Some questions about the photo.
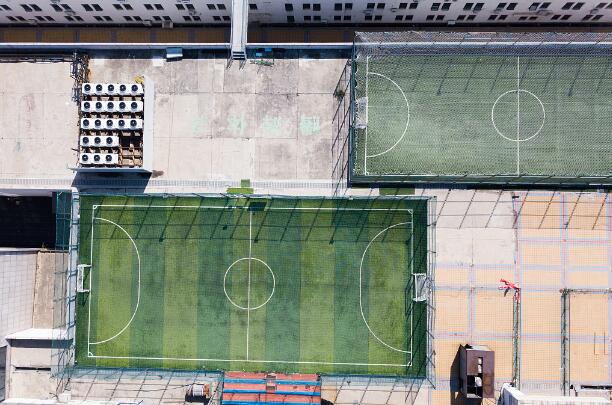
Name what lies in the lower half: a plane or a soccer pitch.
soccer pitch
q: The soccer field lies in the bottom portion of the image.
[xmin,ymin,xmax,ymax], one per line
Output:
[76,198,427,377]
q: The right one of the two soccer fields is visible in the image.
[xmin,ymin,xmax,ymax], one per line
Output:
[353,54,612,181]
